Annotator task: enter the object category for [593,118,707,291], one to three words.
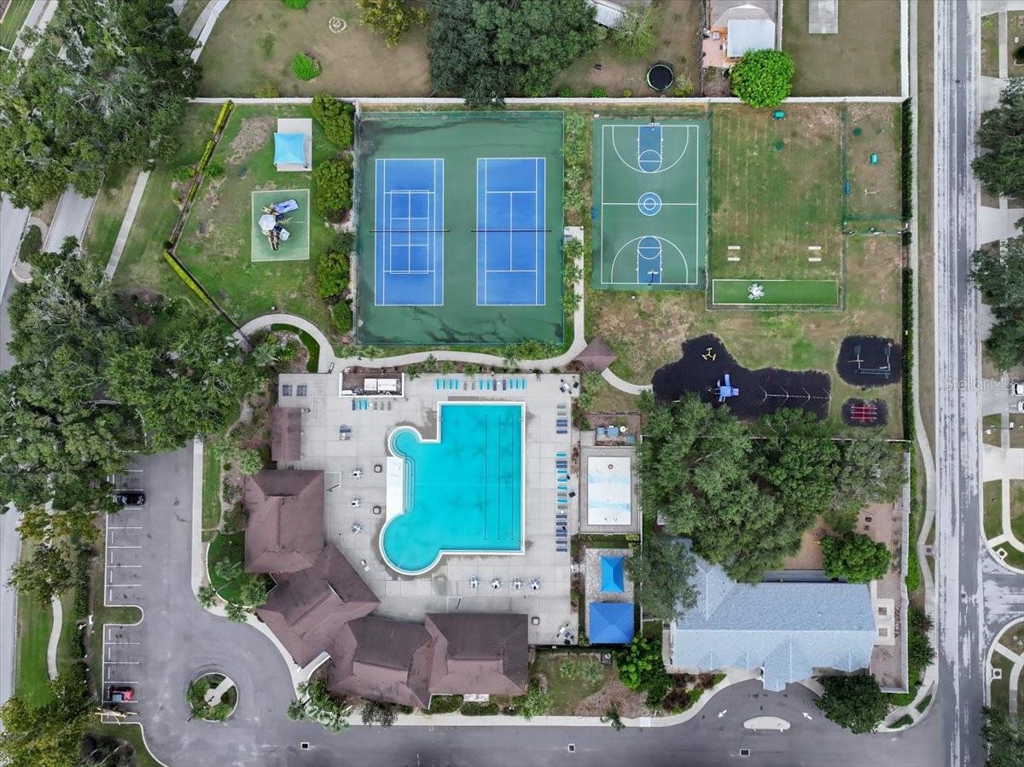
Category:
basketball court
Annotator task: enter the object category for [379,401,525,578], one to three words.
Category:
swimming pool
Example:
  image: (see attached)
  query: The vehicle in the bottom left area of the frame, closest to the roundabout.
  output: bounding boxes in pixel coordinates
[108,686,135,701]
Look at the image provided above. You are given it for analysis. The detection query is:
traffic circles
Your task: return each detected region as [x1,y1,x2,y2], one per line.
[187,671,239,723]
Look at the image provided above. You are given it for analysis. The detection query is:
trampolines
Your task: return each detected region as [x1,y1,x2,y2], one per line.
[645,60,677,91]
